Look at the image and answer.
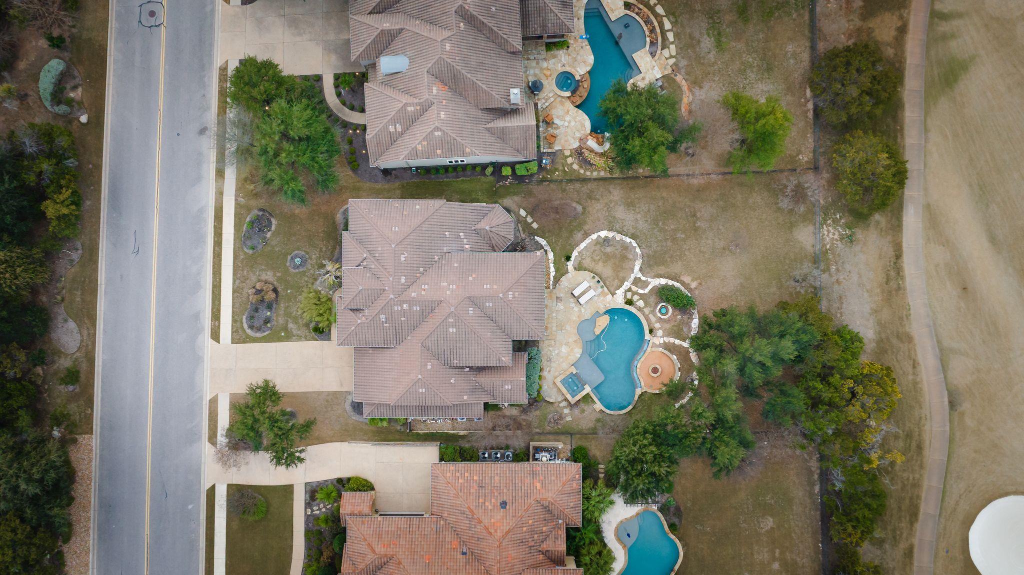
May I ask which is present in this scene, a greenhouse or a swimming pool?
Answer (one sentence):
The one in the frame is a swimming pool.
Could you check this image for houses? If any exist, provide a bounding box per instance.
[340,460,584,575]
[335,198,546,420]
[348,0,577,169]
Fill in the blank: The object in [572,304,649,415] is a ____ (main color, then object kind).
blue swimming pool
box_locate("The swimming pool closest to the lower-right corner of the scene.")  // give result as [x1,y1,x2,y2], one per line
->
[615,509,683,575]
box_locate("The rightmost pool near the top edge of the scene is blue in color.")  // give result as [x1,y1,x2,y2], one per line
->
[578,0,647,134]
